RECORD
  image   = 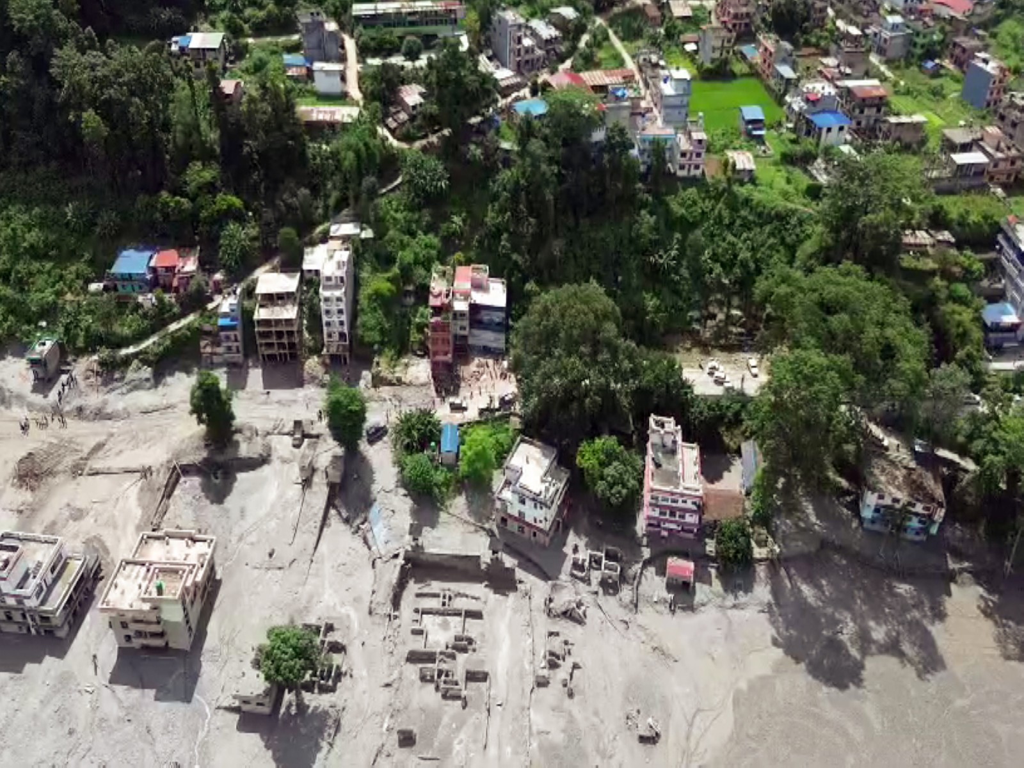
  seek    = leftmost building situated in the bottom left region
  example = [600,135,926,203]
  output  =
[0,525,103,636]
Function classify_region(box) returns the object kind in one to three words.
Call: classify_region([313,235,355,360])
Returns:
house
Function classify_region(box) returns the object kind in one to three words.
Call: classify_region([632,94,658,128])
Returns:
shed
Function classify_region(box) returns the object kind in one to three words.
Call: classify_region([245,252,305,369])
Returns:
building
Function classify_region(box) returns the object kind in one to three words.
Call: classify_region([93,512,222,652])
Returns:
house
